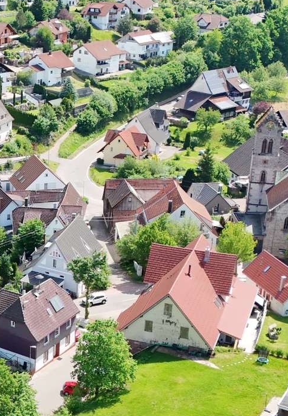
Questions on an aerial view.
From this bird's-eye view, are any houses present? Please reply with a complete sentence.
Yes, a house can be made out from above.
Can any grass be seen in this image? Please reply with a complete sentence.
Yes, grass shows up in the scene.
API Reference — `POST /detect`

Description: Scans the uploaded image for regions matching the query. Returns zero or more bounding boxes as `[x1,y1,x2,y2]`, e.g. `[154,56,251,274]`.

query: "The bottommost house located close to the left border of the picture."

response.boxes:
[0,277,76,361]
